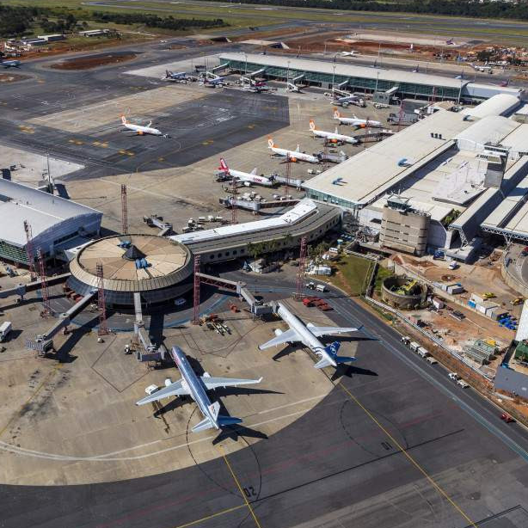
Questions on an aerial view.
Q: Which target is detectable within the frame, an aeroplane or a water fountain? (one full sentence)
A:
It is an aeroplane that can be seen here.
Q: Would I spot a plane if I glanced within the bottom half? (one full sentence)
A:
Yes, a plane shows up within the bottom half.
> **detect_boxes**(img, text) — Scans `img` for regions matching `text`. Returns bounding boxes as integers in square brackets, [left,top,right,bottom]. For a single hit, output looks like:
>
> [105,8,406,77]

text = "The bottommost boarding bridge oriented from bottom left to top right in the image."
[27,293,93,362]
